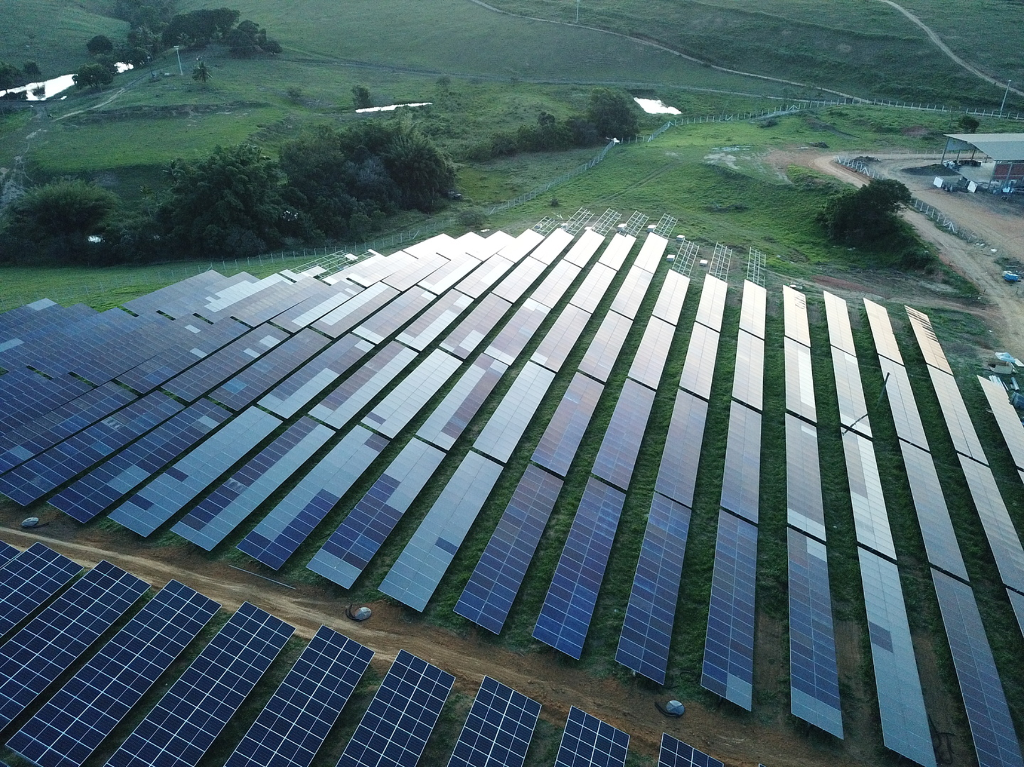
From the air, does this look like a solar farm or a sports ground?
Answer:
solar farm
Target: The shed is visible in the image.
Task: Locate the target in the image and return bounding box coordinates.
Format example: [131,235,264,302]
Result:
[938,137,1024,189]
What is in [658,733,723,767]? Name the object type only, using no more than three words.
solar array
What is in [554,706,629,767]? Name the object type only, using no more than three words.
solar array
